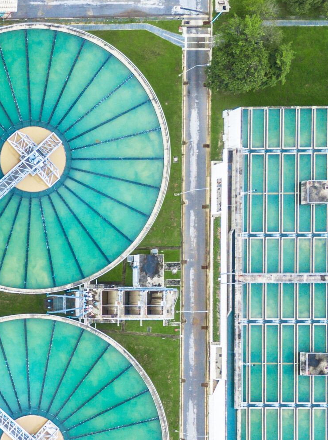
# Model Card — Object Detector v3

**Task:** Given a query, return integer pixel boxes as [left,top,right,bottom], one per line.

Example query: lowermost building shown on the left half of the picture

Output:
[73,281,181,327]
